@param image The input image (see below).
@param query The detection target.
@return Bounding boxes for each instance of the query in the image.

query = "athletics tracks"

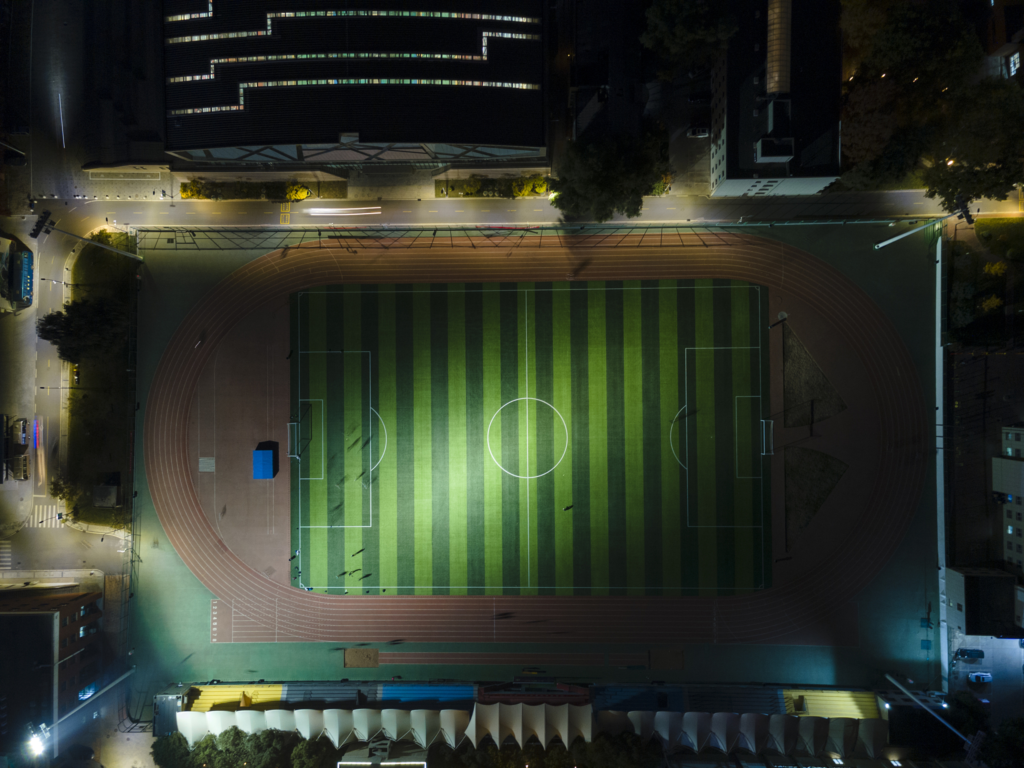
[147,232,925,646]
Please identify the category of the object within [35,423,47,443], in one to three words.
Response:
vehicle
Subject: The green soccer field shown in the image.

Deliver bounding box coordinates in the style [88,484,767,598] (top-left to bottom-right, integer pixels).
[290,280,773,597]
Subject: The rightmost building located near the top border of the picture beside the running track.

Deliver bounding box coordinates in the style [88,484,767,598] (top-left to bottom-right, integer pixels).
[709,0,840,197]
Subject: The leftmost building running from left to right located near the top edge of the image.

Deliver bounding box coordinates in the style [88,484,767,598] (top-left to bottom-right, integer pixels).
[163,0,551,183]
